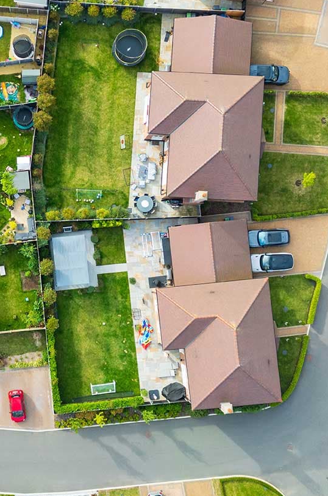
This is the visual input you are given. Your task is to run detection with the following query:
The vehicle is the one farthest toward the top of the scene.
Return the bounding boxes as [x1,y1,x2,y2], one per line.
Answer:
[250,62,290,83]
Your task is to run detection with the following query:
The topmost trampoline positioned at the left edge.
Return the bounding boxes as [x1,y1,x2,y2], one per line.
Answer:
[13,32,33,56]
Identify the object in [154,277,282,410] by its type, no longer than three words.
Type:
house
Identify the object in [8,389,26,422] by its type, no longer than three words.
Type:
car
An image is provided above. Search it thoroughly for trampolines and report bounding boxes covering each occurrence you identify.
[13,104,34,127]
[13,32,33,56]
[114,27,149,64]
